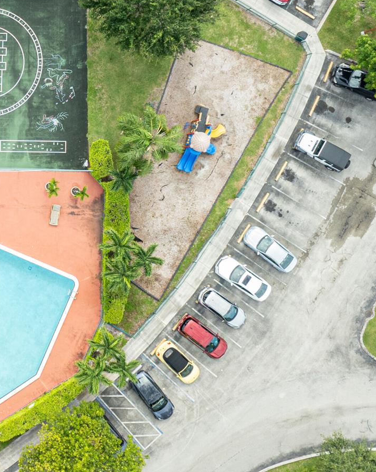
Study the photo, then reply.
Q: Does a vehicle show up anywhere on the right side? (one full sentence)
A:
Yes, a vehicle can be seen on the right side.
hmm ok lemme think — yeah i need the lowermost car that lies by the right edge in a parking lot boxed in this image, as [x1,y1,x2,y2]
[290,126,358,175]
